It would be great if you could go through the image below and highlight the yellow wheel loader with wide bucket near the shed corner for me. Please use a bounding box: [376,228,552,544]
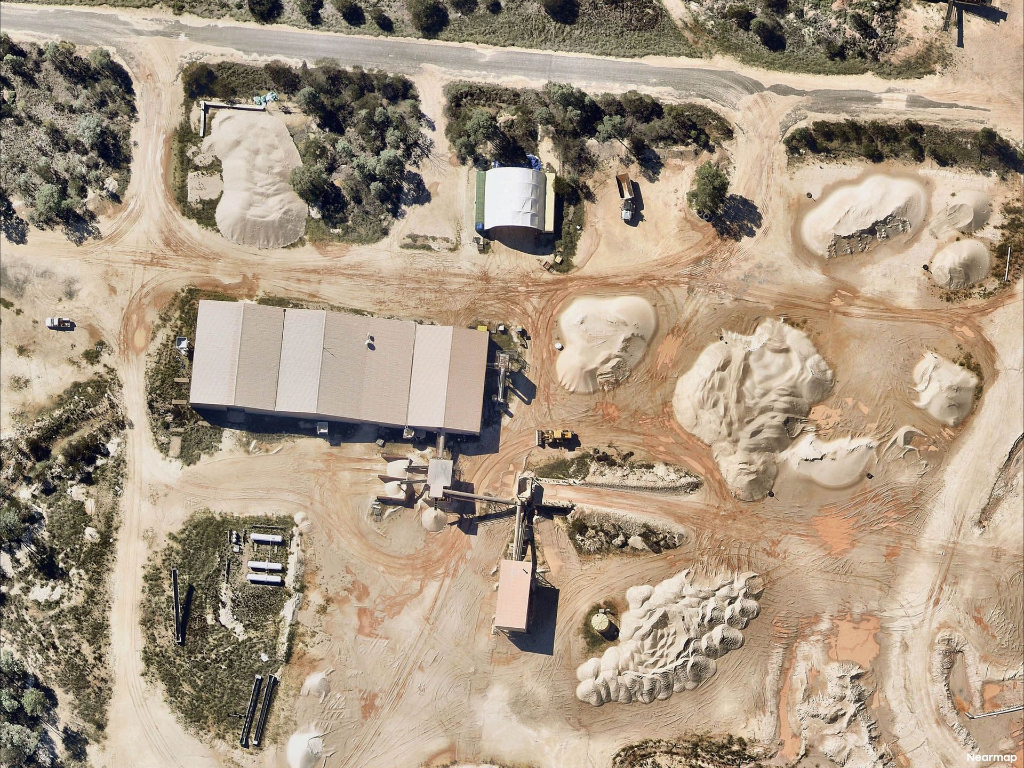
[536,430,572,446]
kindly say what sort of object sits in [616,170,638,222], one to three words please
truck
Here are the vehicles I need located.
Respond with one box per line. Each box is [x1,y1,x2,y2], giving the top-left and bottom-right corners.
[616,170,638,222]
[46,318,70,328]
[536,430,572,446]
